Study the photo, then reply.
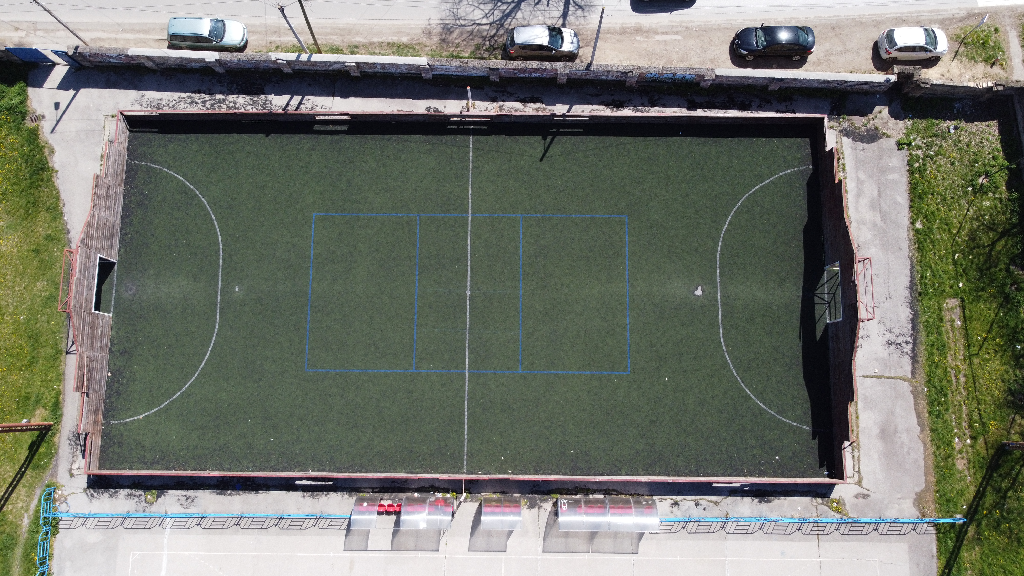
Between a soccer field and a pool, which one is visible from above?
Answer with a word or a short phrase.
soccer field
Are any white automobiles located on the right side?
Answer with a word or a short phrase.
Yes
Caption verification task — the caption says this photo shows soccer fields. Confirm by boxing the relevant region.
[93,121,841,478]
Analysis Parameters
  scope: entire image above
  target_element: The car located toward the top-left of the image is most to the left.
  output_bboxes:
[163,13,246,51]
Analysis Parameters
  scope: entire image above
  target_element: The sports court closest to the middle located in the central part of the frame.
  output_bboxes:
[306,214,629,373]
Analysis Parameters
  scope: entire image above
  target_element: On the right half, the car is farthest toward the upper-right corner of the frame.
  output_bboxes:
[876,22,947,61]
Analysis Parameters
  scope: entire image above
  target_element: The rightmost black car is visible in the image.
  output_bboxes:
[733,21,816,61]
